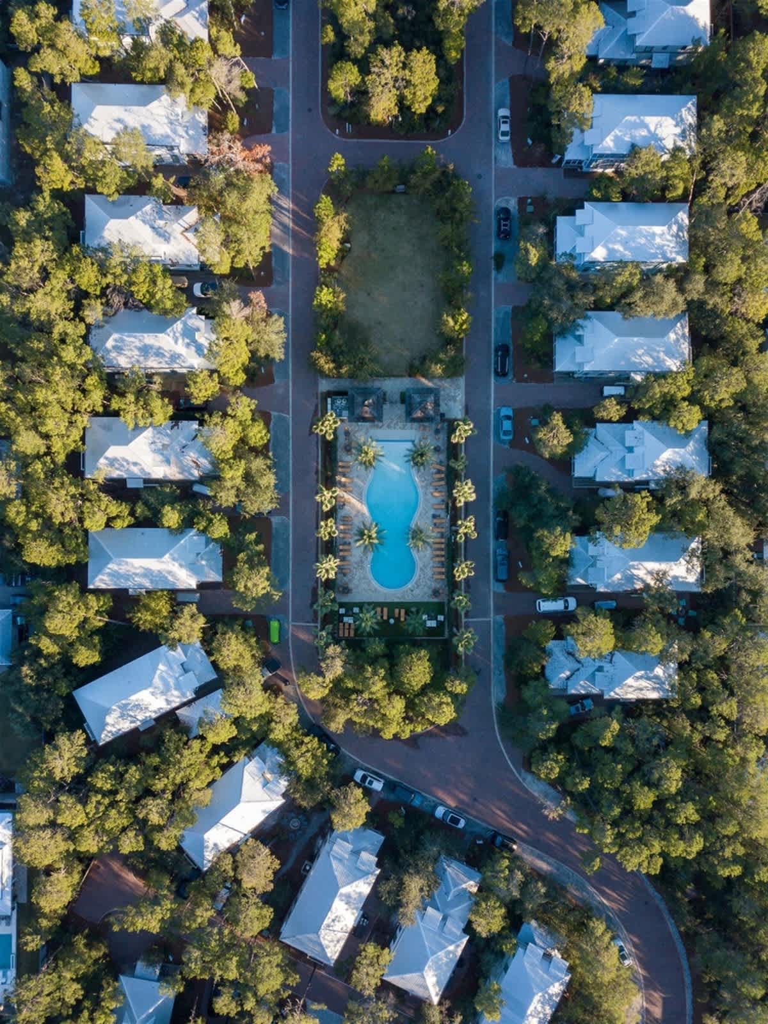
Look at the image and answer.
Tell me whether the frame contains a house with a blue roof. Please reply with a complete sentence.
Yes, there's a house with a blue roof down there.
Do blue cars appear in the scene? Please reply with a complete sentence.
Yes, there's a blue car down there.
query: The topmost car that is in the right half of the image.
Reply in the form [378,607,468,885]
[497,106,513,140]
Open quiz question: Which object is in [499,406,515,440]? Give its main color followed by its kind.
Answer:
blue car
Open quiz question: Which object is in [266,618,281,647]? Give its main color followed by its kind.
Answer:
green car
